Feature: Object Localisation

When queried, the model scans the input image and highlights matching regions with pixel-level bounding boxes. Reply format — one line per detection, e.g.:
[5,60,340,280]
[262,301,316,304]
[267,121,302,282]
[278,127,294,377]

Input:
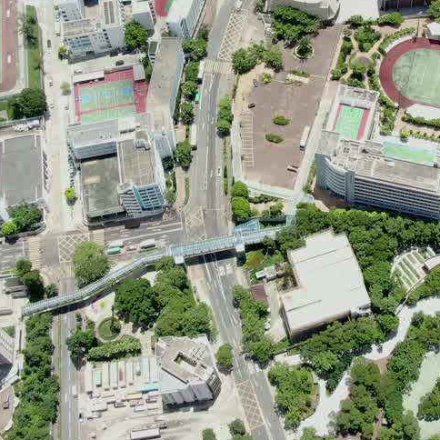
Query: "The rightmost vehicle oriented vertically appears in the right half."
[299,122,312,149]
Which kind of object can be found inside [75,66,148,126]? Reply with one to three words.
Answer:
sports court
